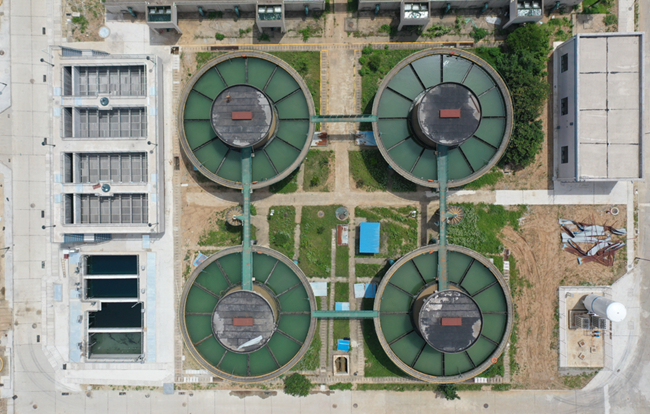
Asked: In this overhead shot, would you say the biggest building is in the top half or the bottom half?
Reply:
top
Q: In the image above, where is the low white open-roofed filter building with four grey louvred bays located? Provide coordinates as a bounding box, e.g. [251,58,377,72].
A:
[48,46,162,242]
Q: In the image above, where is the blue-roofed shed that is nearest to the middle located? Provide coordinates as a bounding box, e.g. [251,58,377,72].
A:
[360,222,380,253]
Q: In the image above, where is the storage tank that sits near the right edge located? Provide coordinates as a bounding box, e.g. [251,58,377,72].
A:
[578,292,624,321]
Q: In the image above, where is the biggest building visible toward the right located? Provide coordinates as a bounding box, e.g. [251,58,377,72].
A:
[555,33,643,182]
